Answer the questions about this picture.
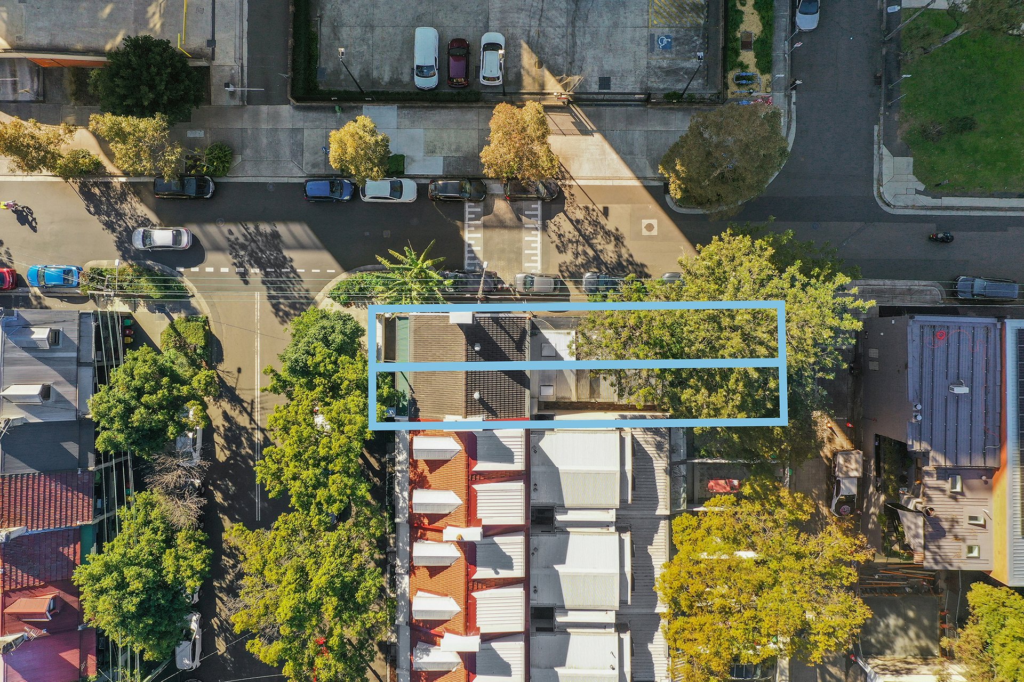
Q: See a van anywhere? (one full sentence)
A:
Yes, I can see a van in this picture.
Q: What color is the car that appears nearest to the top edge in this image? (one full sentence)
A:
The car that appears nearest to the top edge looks blue in the image.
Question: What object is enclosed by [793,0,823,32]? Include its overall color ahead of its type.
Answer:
blue car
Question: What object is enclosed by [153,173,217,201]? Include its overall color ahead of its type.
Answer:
black car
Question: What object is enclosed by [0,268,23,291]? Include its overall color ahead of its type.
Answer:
red car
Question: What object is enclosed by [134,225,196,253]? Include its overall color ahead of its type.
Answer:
gray car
